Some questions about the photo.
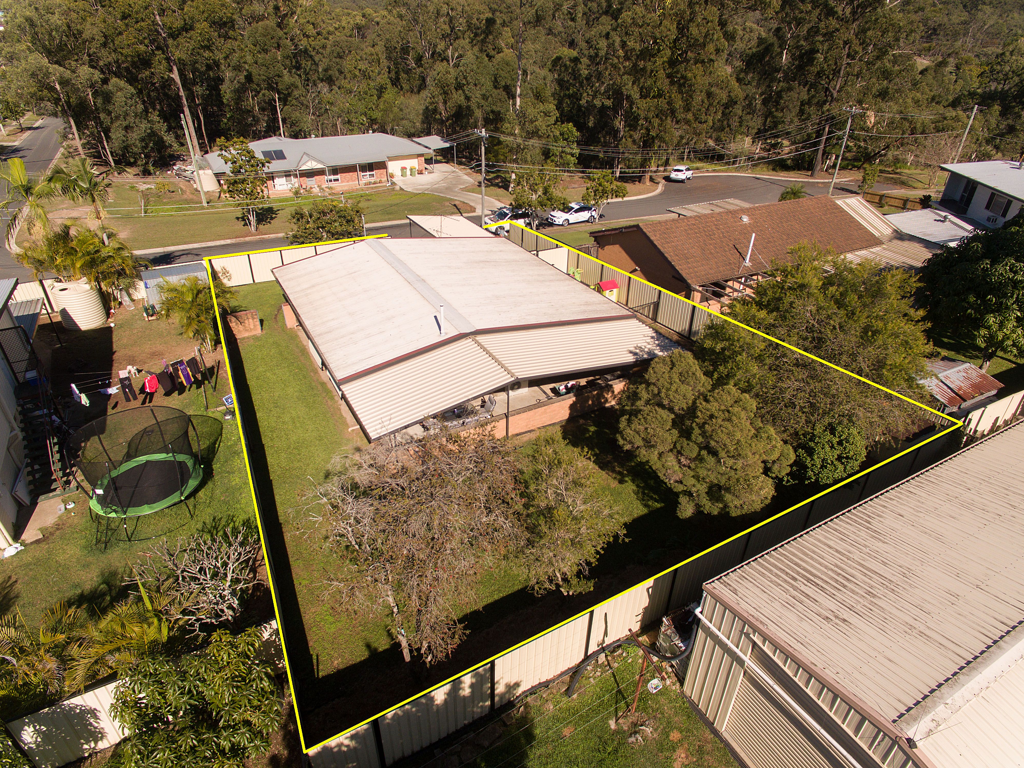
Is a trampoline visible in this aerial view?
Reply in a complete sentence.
Yes, there is a trampoline in the image.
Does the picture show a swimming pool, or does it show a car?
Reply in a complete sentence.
Visible in the photo is a car.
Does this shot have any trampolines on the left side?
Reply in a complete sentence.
Yes, you'll find a trampoline on the left side.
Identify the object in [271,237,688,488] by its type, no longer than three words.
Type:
house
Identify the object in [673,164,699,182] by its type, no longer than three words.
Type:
car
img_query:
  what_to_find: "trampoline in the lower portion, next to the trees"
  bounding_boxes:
[64,404,211,540]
